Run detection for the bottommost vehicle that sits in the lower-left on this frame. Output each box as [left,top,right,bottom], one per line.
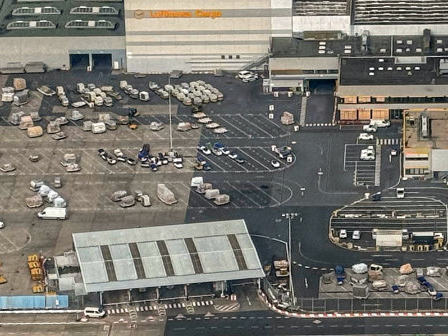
[81,306,106,318]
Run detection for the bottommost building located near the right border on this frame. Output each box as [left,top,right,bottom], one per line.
[402,103,448,180]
